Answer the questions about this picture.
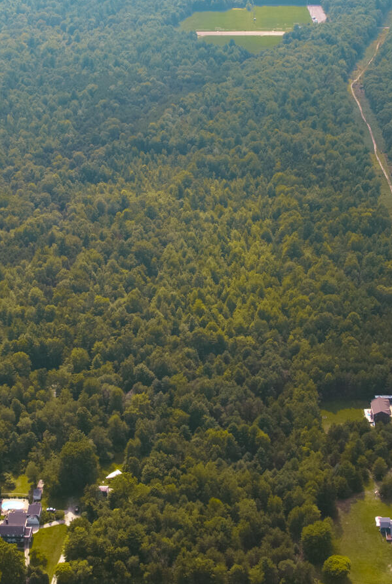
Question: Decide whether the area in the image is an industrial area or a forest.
forest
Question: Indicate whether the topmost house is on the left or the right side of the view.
right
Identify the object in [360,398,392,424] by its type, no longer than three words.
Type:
house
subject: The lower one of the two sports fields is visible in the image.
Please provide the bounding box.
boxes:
[194,31,284,55]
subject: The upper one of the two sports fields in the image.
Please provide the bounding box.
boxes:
[181,5,328,32]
